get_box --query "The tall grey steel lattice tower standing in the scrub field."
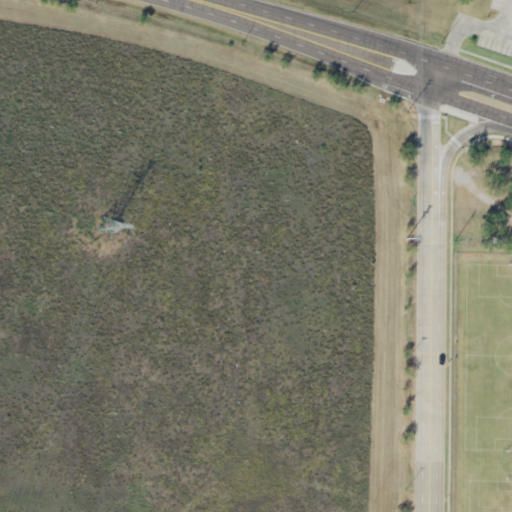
[98,216,136,236]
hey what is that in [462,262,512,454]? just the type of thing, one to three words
soccer field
